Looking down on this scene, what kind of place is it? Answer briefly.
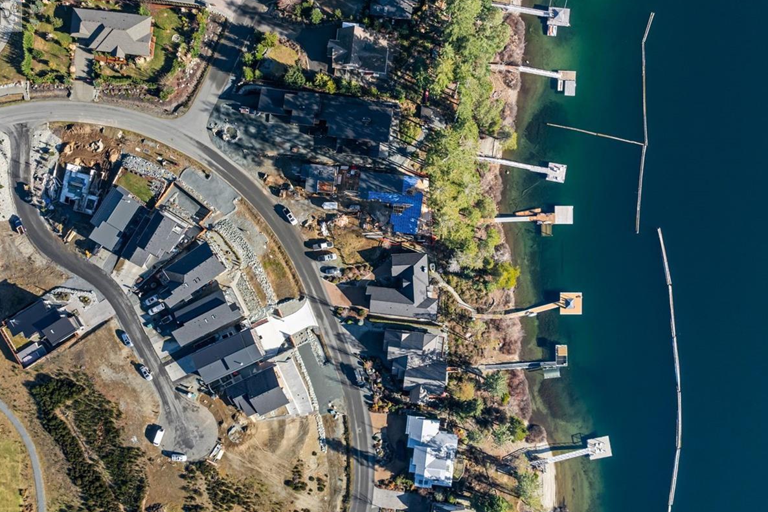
residential area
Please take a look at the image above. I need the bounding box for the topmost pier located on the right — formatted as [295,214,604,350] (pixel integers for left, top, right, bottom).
[492,0,571,26]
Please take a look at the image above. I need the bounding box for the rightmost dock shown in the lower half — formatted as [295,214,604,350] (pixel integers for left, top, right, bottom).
[531,435,614,467]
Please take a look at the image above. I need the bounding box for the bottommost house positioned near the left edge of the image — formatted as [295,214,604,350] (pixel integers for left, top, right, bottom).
[8,298,85,367]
